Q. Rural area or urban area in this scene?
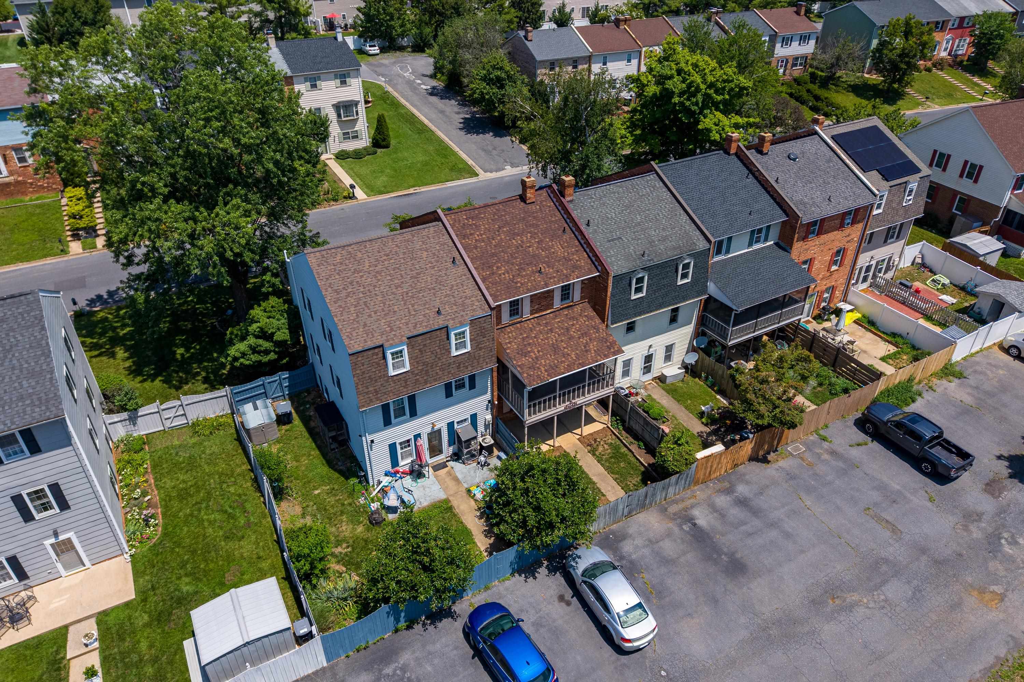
urban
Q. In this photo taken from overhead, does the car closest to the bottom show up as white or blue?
blue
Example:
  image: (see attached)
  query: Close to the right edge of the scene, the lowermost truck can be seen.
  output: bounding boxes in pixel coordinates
[860,402,983,485]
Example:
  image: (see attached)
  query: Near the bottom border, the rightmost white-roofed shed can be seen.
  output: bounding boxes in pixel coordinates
[190,578,297,682]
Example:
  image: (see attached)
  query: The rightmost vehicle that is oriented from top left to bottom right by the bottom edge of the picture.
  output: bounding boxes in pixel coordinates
[565,543,660,652]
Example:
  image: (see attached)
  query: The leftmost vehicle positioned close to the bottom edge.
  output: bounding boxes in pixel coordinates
[466,600,561,682]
